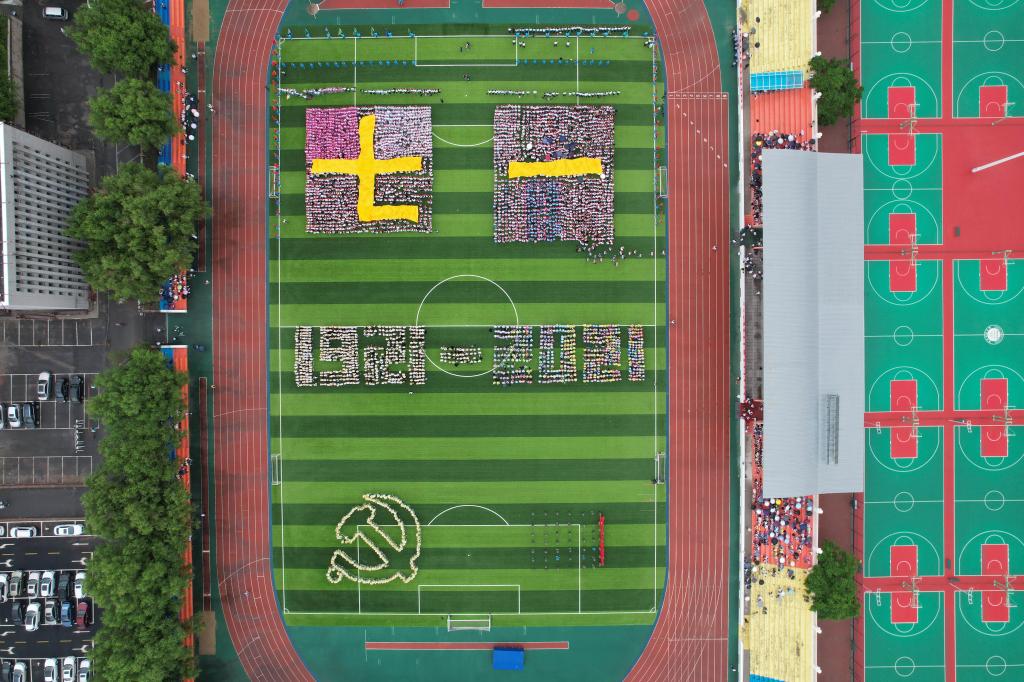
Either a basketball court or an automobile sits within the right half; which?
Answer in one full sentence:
The one visible within the right half is a basketball court.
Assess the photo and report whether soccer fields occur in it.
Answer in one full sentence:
Yes, the picture does show a soccer field.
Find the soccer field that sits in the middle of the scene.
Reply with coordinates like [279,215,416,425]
[270,24,666,626]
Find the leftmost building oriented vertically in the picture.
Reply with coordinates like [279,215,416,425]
[0,121,91,309]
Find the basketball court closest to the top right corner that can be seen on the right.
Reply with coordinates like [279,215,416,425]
[953,0,1024,118]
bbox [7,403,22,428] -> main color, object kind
white car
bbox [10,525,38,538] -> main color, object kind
white vehicle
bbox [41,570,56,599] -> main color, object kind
white car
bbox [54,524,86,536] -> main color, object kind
white vehicle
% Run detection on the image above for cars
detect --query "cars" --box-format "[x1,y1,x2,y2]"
[77,659,92,682]
[54,524,86,536]
[57,574,72,601]
[44,599,59,624]
[37,373,52,400]
[0,573,9,604]
[0,659,14,682]
[12,660,28,682]
[25,601,42,632]
[0,403,7,430]
[7,403,22,428]
[43,657,59,682]
[59,600,74,627]
[62,655,77,682]
[41,570,56,599]
[22,402,38,429]
[72,571,87,599]
[55,378,69,402]
[10,601,25,626]
[10,525,38,538]
[26,571,41,599]
[75,601,90,630]
[8,570,24,598]
[68,376,83,403]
